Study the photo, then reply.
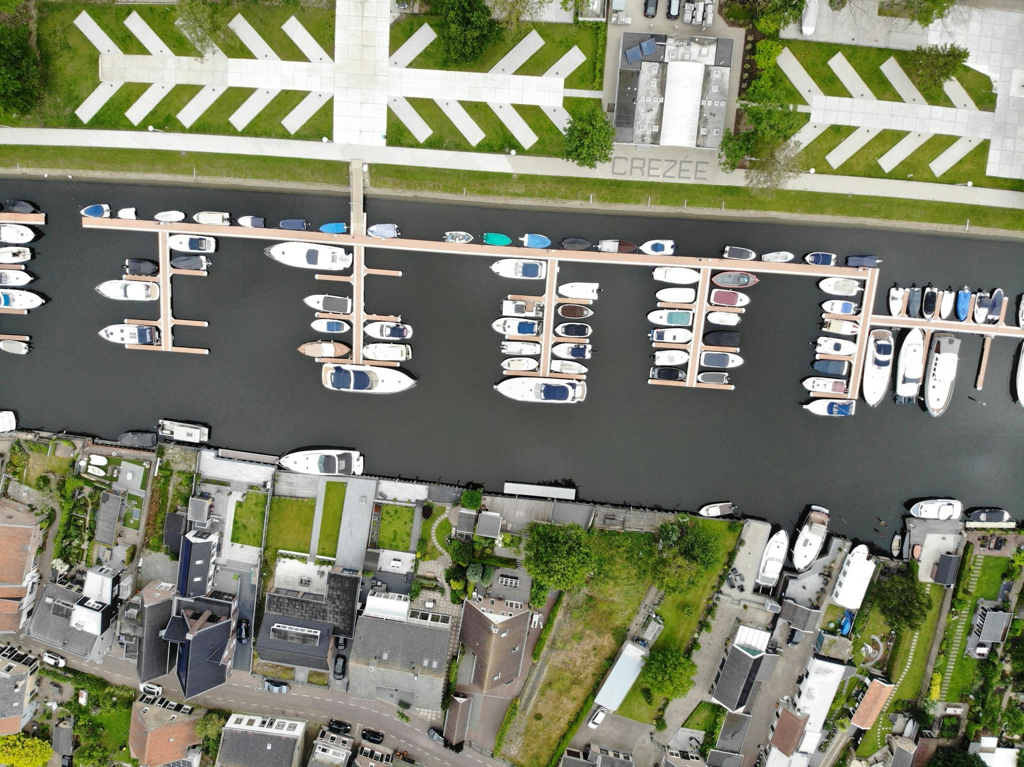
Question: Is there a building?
Yes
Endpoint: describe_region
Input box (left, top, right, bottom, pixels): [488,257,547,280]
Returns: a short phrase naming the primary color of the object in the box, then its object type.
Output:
white boat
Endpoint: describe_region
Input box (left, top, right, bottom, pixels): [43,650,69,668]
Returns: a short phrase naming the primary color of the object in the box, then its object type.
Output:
white car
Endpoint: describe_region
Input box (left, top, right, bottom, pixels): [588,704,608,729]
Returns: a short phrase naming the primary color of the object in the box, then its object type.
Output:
white car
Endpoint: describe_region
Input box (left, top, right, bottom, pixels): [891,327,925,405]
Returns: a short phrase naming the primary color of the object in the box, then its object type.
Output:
white boat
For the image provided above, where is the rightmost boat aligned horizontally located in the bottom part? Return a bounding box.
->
[970,508,1010,522]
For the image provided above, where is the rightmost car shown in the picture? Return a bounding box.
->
[787,627,801,647]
